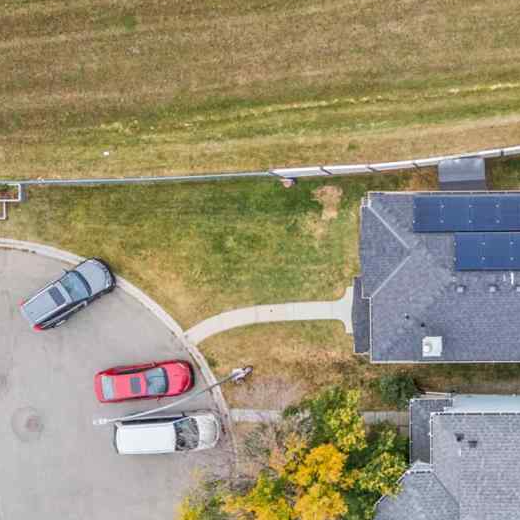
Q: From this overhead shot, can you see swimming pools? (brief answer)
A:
No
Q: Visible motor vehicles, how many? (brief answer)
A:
3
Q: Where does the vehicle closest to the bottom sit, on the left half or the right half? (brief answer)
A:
left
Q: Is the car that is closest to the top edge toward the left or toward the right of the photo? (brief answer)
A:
left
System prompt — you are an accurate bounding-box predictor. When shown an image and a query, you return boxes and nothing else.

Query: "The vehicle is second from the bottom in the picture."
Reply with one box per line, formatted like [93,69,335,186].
[97,359,197,405]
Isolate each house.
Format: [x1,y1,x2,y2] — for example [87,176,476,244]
[368,393,520,520]
[350,191,520,361]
